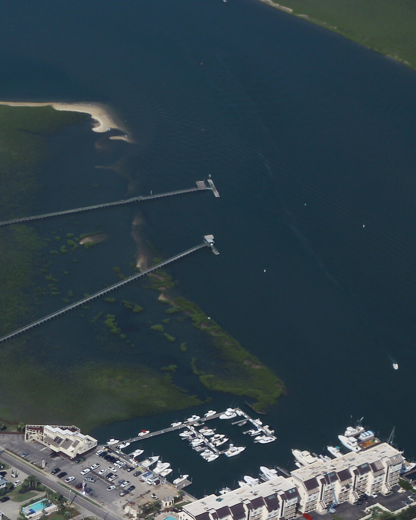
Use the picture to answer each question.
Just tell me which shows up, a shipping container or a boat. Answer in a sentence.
Visible in the photo is a boat.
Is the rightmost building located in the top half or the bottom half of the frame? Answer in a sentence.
It is in the bottom half that the rightmost building appears.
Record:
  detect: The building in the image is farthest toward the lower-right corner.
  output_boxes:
[292,443,404,514]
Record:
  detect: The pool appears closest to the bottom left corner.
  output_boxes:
[22,498,55,516]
